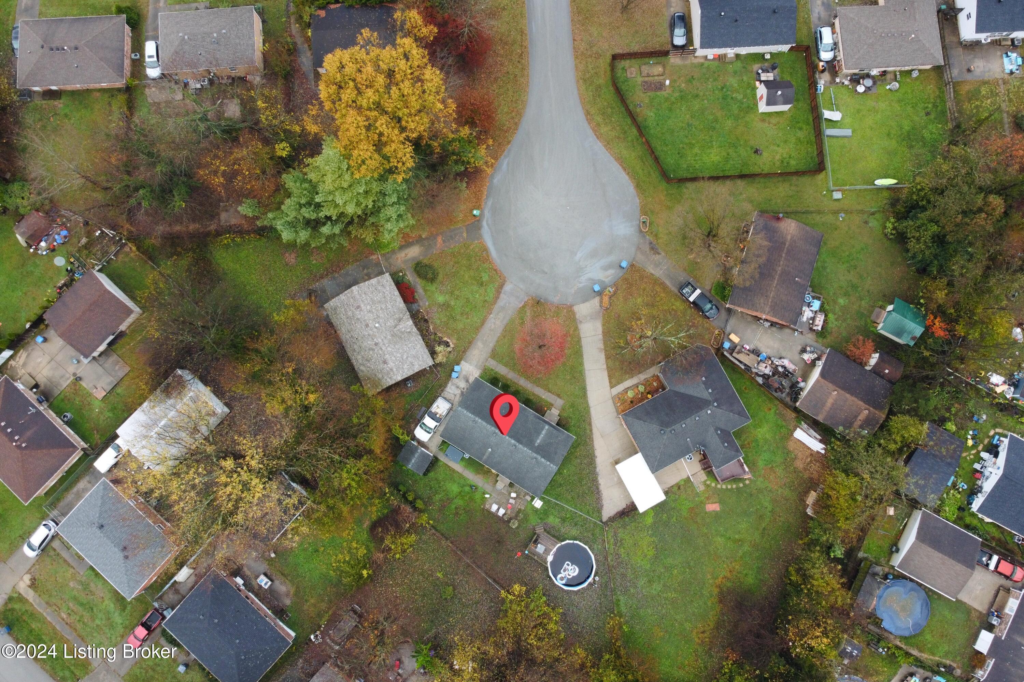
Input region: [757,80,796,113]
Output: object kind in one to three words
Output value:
shed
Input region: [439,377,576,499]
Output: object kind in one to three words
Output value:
house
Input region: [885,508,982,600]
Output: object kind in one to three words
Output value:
building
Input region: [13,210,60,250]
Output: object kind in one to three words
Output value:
shed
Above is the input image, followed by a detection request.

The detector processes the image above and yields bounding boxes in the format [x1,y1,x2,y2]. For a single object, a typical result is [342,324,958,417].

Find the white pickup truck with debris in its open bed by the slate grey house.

[413,393,456,445]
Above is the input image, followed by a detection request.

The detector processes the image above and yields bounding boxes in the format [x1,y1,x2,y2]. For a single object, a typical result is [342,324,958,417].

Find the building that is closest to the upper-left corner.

[18,15,136,95]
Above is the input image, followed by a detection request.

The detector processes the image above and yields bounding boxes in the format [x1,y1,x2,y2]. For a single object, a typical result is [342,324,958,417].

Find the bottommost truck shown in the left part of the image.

[125,602,166,652]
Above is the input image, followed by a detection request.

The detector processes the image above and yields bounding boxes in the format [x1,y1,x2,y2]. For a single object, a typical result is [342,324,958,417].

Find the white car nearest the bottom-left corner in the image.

[23,516,61,560]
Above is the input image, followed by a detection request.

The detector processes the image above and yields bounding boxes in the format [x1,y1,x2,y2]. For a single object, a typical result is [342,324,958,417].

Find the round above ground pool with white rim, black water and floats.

[546,539,595,589]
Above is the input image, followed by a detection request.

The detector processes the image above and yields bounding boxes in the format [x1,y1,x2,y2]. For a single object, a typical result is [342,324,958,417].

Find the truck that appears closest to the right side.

[981,546,1024,584]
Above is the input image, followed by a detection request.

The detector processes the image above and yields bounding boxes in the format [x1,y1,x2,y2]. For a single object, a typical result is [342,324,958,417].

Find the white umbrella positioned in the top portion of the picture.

[822,89,841,122]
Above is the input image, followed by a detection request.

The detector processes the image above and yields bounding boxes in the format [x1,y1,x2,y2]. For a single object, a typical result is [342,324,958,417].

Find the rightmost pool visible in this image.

[872,579,930,636]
